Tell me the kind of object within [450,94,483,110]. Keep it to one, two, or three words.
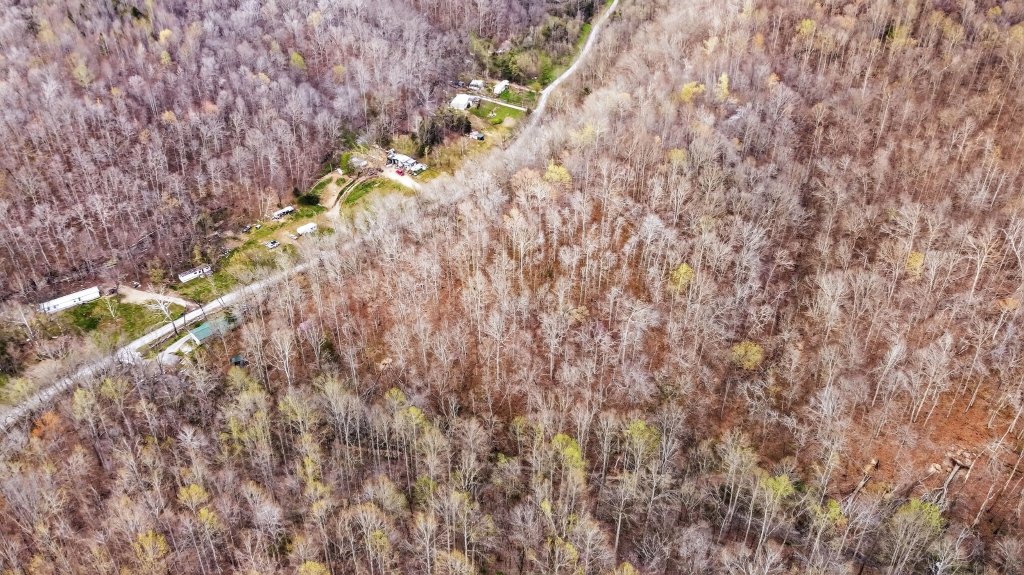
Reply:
barn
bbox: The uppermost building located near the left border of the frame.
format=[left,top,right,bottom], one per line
[41,286,100,314]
